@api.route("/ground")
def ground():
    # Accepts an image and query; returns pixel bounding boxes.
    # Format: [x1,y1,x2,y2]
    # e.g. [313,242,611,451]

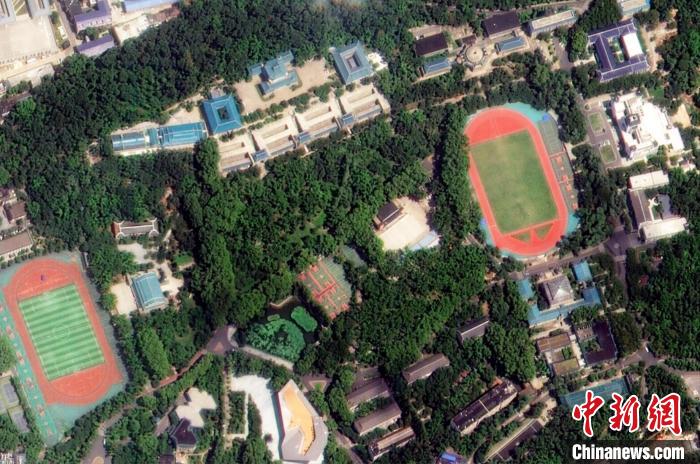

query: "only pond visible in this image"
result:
[237,294,328,364]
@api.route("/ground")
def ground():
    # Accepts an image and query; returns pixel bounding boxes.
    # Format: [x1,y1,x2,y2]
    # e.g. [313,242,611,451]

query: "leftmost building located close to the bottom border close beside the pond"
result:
[278,379,329,464]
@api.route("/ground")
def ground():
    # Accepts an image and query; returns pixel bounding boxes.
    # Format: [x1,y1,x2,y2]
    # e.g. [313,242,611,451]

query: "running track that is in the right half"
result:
[464,102,578,260]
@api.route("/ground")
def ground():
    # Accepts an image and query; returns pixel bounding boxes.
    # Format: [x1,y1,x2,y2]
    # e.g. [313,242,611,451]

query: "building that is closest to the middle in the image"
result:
[377,203,402,227]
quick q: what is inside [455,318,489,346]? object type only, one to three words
building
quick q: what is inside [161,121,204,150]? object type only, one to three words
building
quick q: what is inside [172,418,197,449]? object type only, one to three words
house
